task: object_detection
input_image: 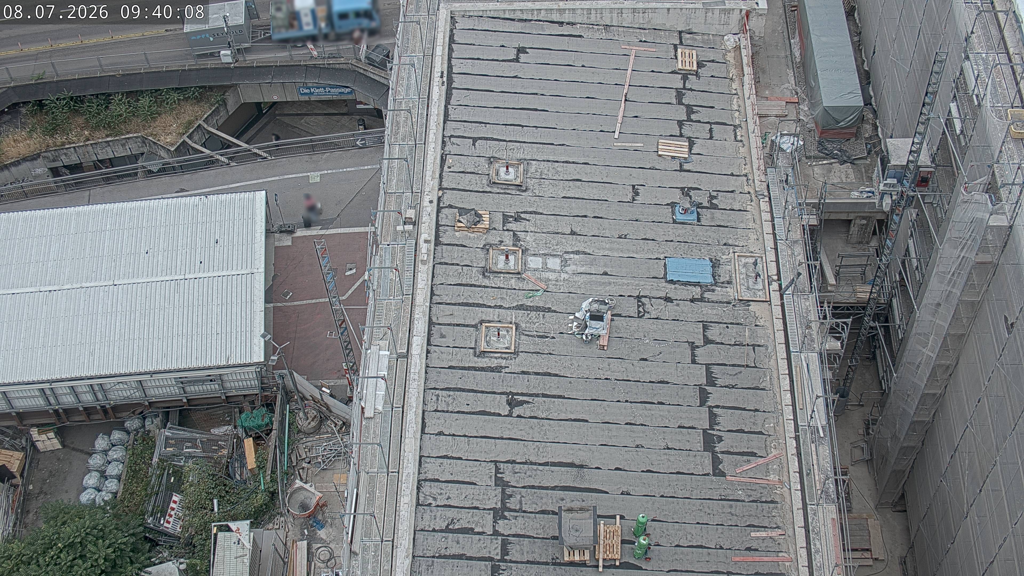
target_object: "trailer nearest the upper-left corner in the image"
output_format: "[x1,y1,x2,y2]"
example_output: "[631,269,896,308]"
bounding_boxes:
[181,0,274,60]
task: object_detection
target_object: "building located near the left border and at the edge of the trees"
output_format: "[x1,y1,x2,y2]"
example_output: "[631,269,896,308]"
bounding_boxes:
[0,190,271,435]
